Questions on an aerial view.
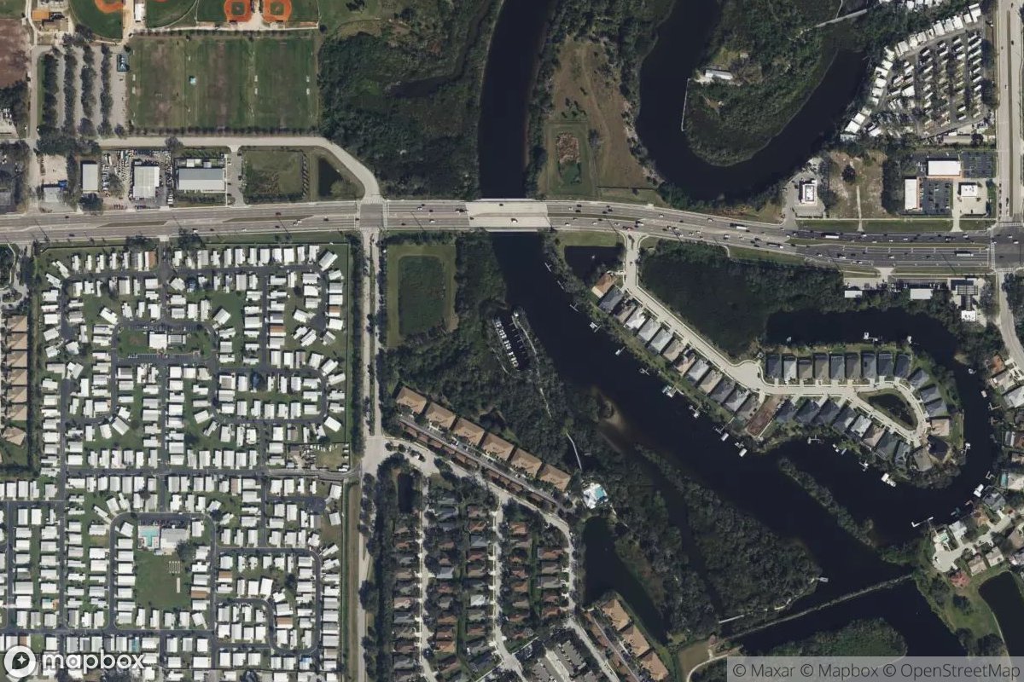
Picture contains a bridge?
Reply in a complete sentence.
Yes, a bridge appears in the view.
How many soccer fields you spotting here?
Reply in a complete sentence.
Altogether the scene contains 3 soccer fields.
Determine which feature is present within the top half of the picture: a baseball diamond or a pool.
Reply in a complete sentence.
There is a baseball diamond within the top half of the picture.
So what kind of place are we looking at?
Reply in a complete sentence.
The area seen from above is a residential area.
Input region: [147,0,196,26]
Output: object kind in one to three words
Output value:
baseball field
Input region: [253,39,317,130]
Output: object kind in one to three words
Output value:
soccer field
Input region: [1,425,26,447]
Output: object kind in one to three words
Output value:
building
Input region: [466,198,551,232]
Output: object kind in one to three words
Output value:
bridge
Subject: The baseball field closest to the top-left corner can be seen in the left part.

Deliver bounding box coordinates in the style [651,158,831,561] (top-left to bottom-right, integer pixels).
[71,0,123,39]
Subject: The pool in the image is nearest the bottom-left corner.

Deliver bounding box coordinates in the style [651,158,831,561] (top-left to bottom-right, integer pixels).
[138,526,160,549]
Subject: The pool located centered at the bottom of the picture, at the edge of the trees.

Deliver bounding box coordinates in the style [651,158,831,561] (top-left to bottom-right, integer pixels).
[583,484,608,509]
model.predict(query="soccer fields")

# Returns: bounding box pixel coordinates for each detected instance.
[253,39,317,130]
[185,39,255,130]
[131,36,185,130]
